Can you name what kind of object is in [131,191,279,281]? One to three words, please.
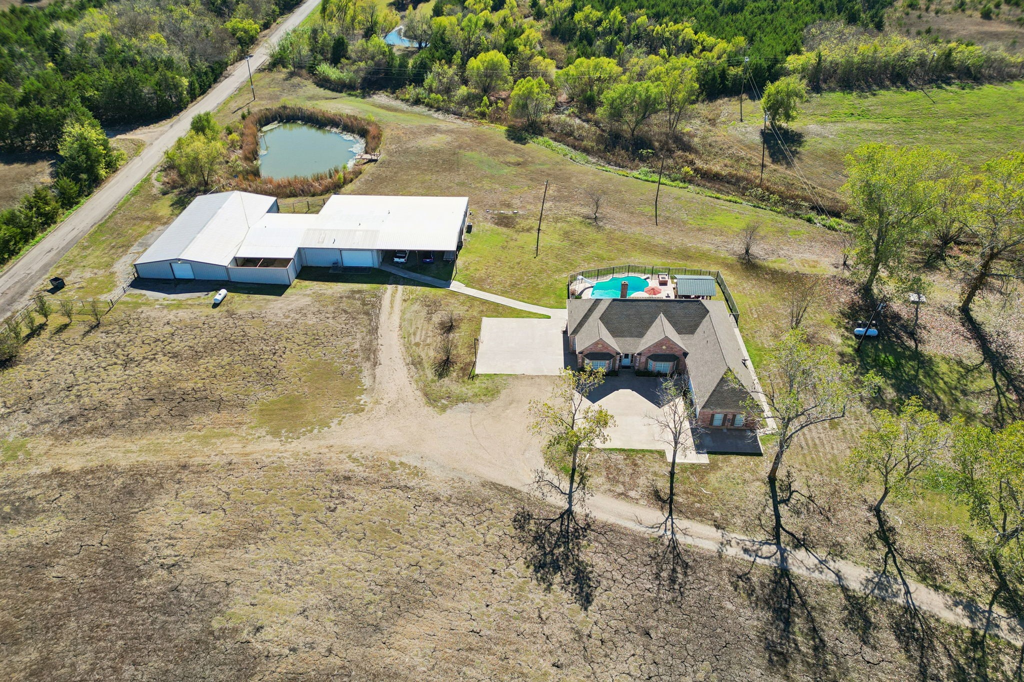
barn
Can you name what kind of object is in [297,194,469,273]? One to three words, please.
building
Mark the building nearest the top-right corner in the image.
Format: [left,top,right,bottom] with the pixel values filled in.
[673,276,717,301]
